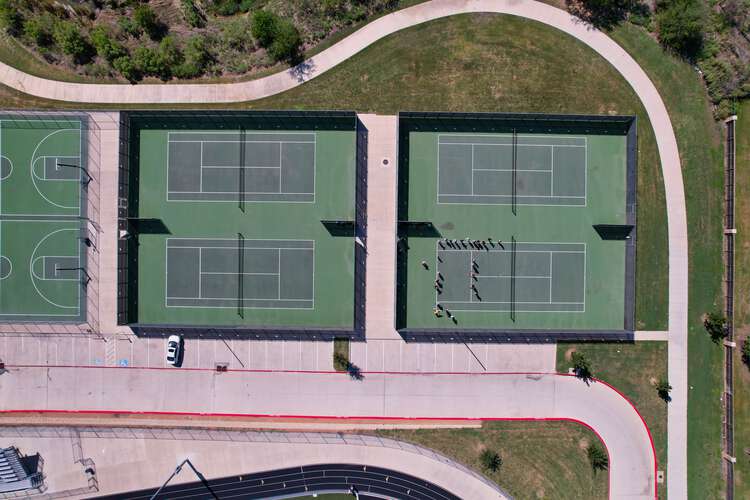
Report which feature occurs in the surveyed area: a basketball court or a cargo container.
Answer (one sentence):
Of the two, only a basketball court appears.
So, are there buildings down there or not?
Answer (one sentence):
No, no building is visible in the view.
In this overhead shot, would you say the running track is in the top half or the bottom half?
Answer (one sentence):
The running track is in the bottom half of the image.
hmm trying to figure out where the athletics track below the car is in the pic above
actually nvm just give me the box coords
[79,463,459,500]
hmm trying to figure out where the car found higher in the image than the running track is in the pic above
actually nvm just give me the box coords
[163,335,179,366]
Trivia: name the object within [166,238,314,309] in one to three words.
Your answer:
tennis court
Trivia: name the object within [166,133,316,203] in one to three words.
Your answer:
tennis court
